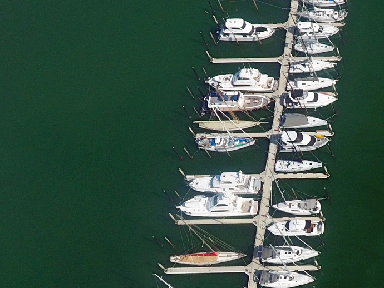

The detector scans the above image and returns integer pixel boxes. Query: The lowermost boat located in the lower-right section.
[256,245,316,288]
